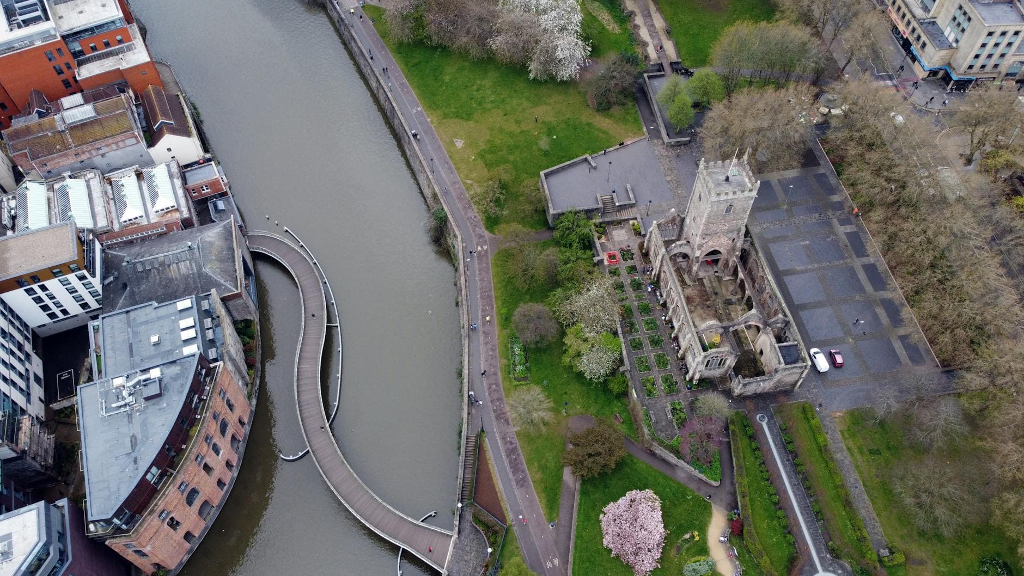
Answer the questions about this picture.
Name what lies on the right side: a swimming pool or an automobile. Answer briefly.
automobile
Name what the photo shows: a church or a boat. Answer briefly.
church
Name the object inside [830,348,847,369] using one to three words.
car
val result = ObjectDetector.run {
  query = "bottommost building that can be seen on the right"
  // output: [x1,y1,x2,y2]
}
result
[639,138,811,405]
